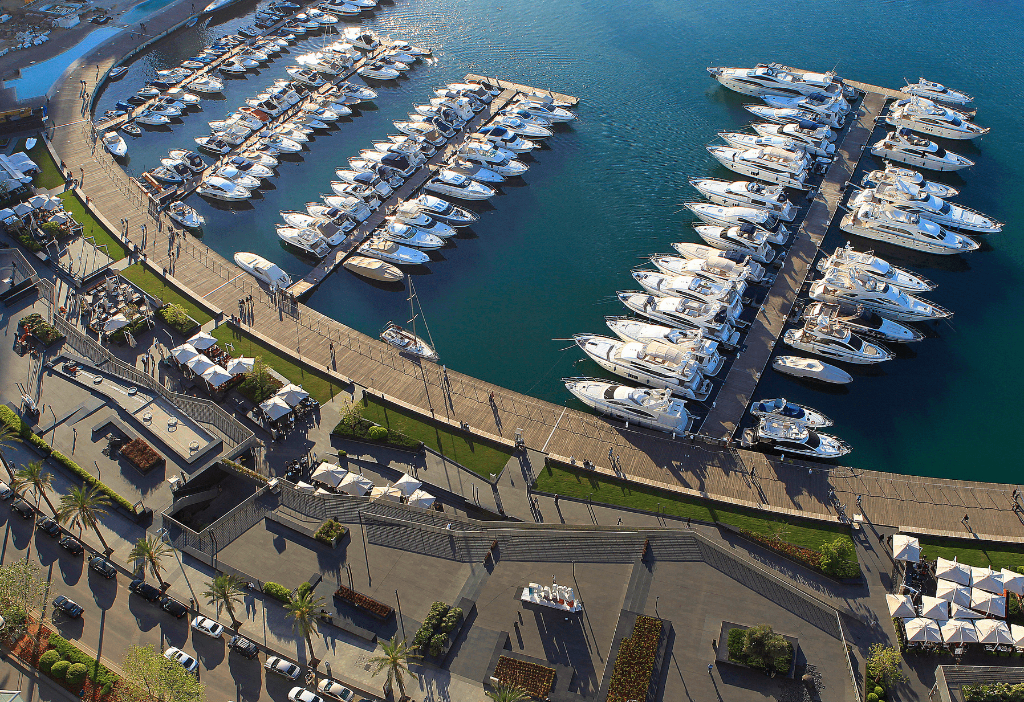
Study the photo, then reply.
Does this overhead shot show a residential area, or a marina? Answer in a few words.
marina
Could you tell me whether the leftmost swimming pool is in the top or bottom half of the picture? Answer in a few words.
top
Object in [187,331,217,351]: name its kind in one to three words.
umbrella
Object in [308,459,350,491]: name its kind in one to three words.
umbrella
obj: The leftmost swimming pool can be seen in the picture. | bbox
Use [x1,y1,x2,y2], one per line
[4,26,122,99]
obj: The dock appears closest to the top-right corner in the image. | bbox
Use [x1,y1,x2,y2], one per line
[699,58,990,441]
